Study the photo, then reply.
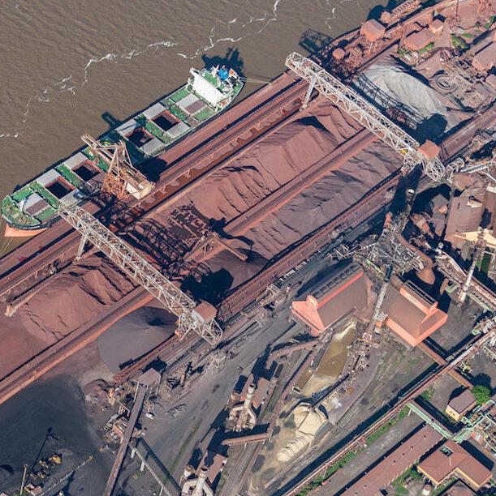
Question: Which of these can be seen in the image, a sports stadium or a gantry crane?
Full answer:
The image shows a gantry crane.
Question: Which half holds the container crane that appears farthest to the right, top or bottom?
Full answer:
The container crane that appears farthest to the right sits in the top half of the picture.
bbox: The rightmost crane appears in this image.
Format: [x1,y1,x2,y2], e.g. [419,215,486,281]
[282,52,445,193]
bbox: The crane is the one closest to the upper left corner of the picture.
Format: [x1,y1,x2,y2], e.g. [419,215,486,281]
[77,133,151,204]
